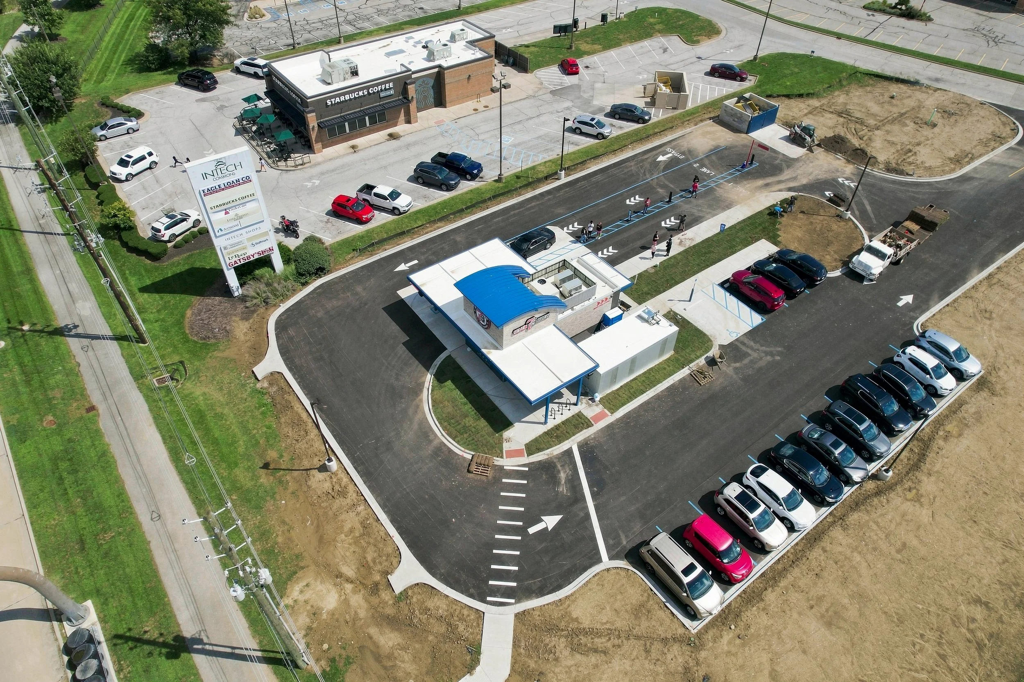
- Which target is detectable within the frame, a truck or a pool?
truck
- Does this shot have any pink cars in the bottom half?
Yes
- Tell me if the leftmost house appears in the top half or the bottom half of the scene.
top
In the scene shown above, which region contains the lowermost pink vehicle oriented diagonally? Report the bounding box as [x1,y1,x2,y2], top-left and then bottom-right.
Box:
[681,507,756,582]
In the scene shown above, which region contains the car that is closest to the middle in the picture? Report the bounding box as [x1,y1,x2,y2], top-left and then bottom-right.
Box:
[507,227,557,259]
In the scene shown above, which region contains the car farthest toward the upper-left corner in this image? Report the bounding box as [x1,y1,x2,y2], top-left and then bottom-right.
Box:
[89,117,140,140]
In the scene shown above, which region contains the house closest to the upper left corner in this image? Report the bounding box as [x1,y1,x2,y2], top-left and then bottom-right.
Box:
[264,19,494,151]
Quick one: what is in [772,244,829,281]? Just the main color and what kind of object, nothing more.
black car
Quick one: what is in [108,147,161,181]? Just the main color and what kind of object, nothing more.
white car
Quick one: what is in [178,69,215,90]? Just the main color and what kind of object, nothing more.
black car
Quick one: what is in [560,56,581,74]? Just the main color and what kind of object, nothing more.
red car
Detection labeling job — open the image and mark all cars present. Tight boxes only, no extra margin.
[681,507,756,582]
[772,244,829,281]
[864,357,939,416]
[708,62,749,81]
[791,416,871,482]
[636,524,726,619]
[609,102,653,123]
[728,269,788,311]
[739,455,820,528]
[329,192,376,223]
[708,474,789,551]
[108,147,161,181]
[234,57,270,76]
[837,371,916,435]
[571,113,613,139]
[412,160,460,190]
[560,56,581,74]
[912,324,983,378]
[144,208,202,242]
[817,394,895,459]
[765,434,847,504]
[89,117,140,140]
[178,69,215,90]
[752,255,811,295]
[507,227,557,259]
[887,340,958,394]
